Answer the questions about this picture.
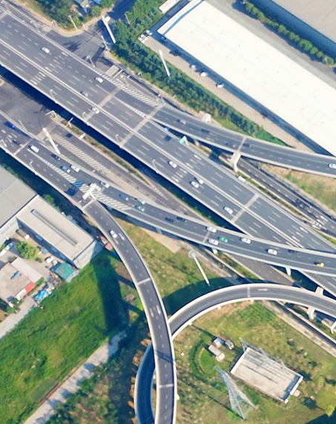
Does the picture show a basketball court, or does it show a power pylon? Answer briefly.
power pylon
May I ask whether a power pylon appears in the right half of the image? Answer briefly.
Yes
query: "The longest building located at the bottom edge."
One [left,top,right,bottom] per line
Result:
[230,347,304,405]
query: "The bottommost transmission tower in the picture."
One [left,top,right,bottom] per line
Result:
[213,364,257,423]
